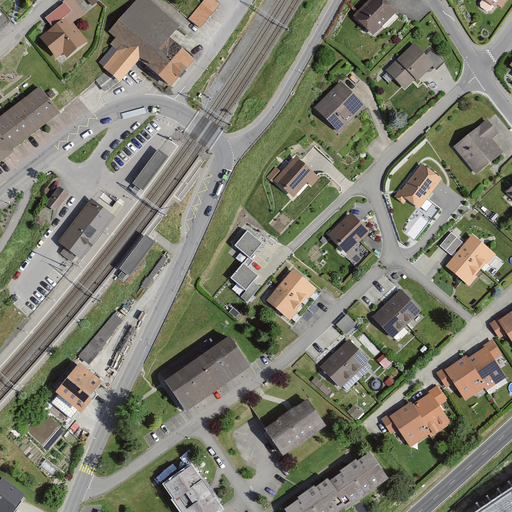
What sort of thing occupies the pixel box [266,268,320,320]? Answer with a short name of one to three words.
house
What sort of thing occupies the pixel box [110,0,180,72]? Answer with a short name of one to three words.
barn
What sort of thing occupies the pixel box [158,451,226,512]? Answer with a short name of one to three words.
building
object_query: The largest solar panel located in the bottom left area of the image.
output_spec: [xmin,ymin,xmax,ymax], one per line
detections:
[62,380,88,402]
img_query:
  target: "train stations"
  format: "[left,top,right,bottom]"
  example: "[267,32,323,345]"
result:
[58,198,114,262]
